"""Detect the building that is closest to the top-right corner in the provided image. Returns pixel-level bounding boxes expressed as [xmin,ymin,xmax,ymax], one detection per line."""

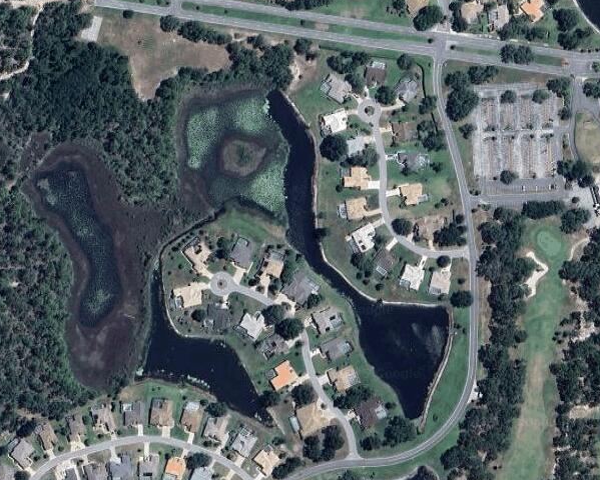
[522,0,548,22]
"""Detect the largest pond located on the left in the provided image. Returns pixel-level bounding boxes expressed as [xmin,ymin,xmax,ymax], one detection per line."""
[141,250,277,426]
